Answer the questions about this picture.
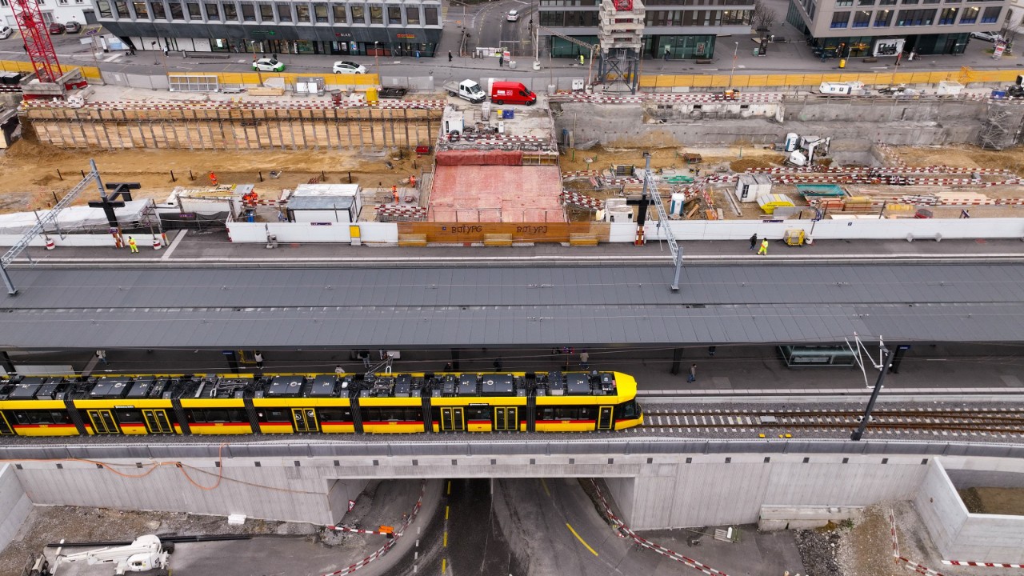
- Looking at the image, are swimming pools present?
No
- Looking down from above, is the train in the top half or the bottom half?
bottom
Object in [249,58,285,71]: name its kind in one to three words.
vehicle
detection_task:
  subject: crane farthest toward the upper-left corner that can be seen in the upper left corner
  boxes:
[12,0,89,96]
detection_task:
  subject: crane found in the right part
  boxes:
[597,0,652,92]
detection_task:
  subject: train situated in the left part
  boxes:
[0,355,645,435]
